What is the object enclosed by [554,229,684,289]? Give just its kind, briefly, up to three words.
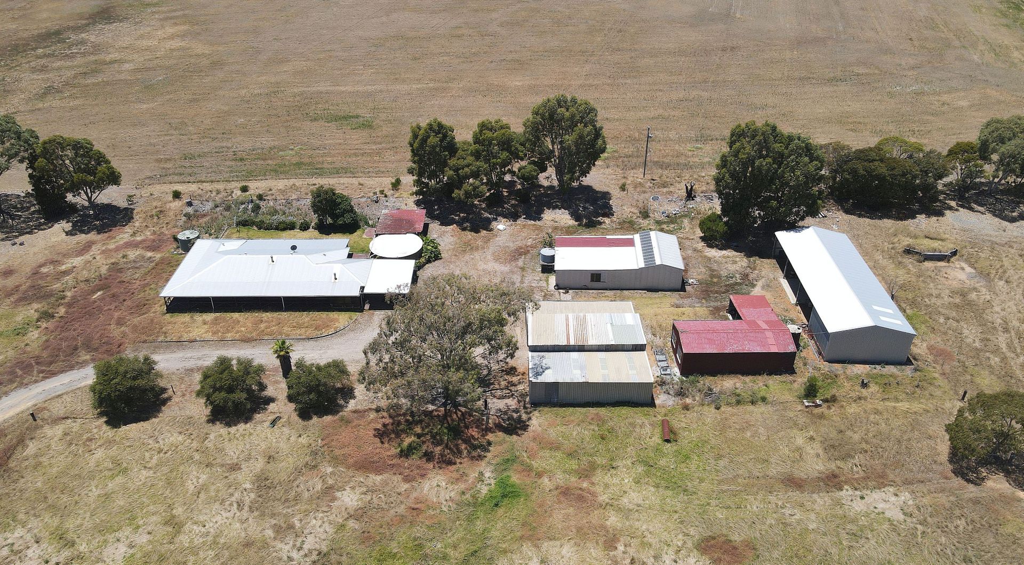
building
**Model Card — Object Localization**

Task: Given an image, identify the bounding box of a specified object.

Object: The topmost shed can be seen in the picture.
[376,209,426,236]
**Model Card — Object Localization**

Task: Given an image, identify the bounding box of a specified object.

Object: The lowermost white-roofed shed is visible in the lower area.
[526,301,655,404]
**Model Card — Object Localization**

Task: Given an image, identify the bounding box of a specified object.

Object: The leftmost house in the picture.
[158,231,374,312]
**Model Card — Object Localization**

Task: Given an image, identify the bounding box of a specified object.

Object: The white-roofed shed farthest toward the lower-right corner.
[771,226,917,363]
